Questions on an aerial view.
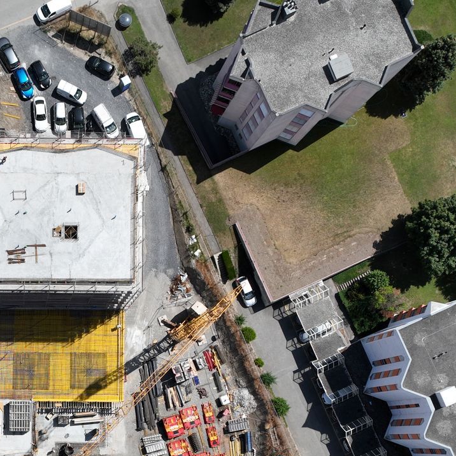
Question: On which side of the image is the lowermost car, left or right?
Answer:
right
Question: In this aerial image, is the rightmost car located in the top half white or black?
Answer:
white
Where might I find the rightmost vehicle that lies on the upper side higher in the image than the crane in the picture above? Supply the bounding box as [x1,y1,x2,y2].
[123,110,148,142]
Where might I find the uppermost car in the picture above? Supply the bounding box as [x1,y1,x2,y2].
[36,0,74,24]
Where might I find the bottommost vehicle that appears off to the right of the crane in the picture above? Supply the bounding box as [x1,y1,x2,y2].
[329,436,356,456]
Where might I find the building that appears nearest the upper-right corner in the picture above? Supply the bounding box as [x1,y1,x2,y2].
[207,0,424,154]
